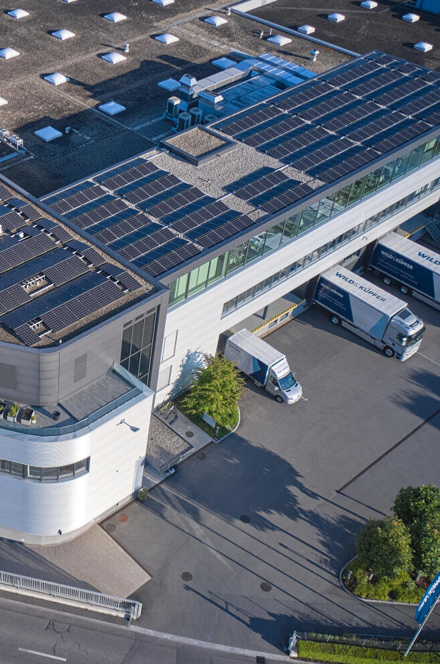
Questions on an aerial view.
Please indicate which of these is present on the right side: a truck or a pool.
truck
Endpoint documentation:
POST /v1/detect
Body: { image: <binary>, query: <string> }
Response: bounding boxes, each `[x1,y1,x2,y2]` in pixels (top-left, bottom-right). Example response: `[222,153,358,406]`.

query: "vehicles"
[370,235,440,311]
[226,329,302,404]
[318,268,430,363]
